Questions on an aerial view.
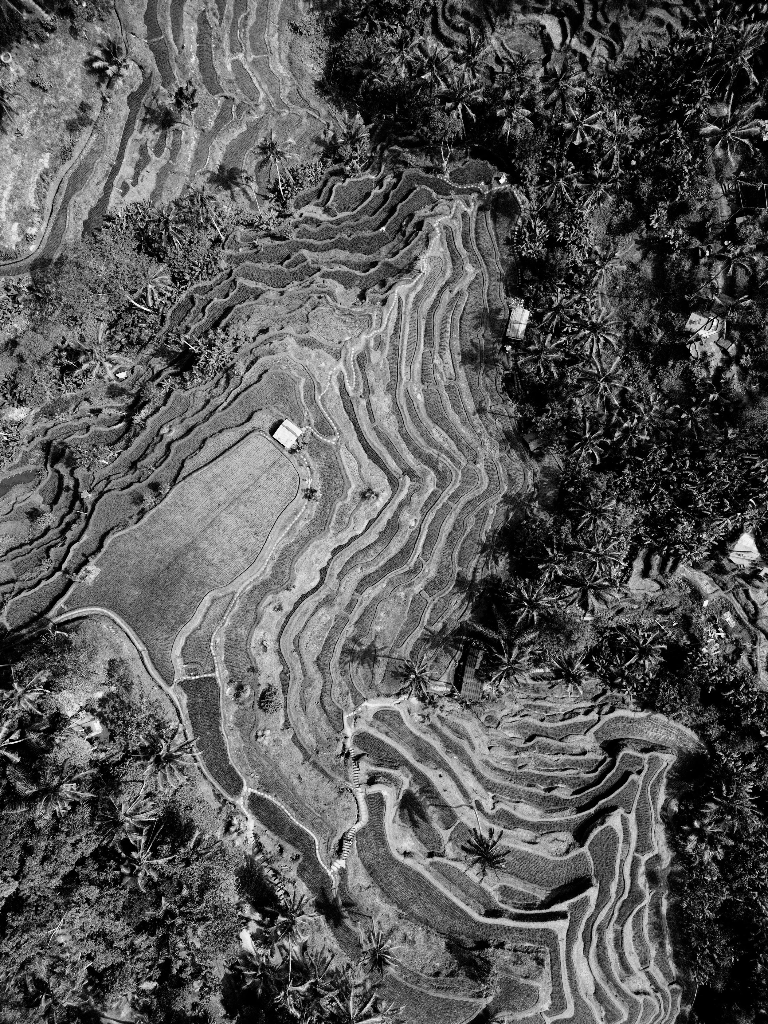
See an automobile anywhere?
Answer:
No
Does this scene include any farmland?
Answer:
Yes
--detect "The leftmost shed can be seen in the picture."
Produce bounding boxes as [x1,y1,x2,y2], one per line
[273,419,303,448]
